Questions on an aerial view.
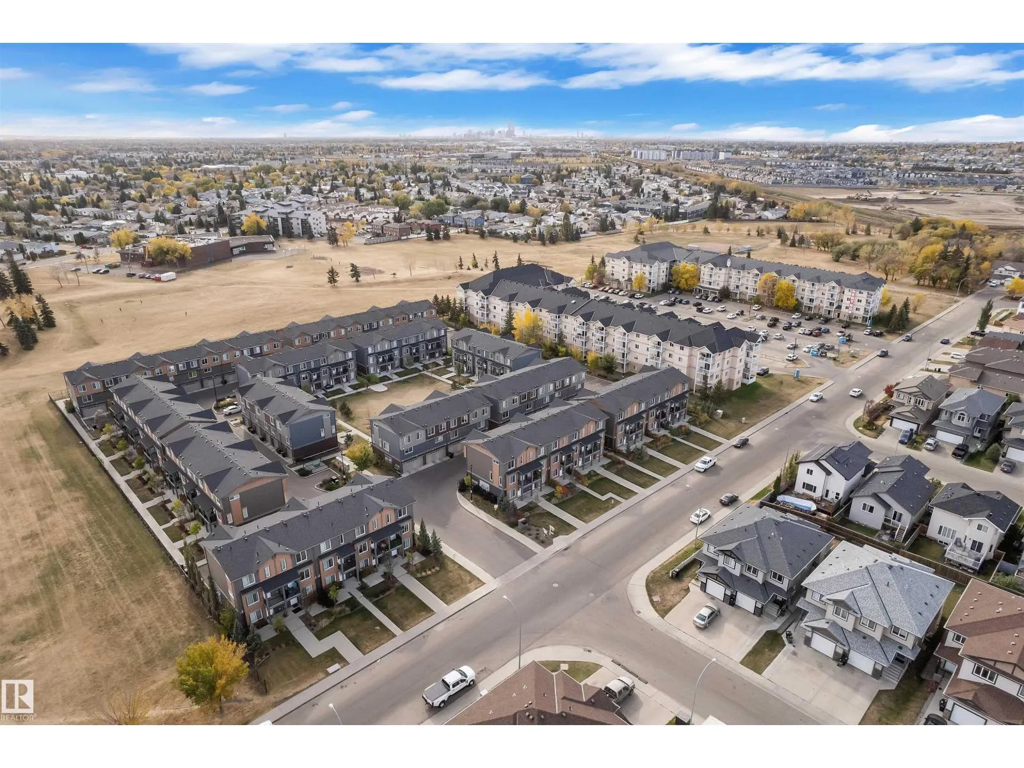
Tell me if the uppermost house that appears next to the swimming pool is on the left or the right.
right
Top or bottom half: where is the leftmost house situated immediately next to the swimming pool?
bottom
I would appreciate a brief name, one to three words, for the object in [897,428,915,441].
vehicle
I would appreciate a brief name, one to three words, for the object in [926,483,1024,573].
house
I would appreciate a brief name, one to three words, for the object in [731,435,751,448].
vehicle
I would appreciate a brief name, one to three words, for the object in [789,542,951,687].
house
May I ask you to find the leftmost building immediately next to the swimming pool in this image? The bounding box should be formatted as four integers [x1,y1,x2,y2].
[686,504,834,624]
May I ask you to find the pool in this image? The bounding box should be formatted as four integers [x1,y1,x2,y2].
[778,491,820,510]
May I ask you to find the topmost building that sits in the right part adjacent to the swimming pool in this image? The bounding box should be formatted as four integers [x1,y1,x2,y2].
[794,440,878,501]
